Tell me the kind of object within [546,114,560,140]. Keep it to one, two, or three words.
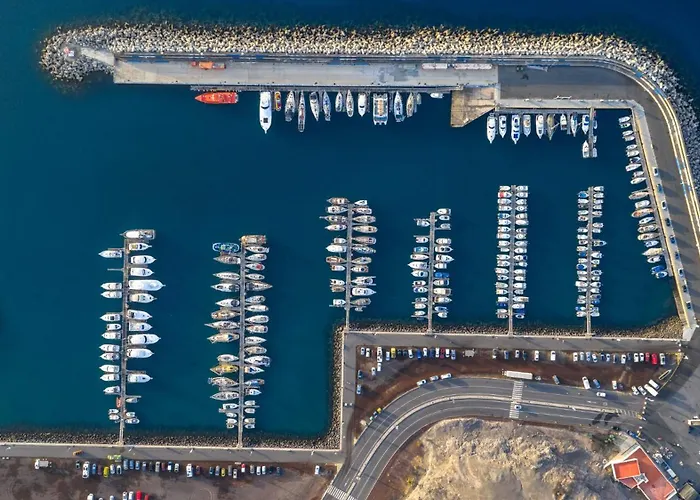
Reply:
boat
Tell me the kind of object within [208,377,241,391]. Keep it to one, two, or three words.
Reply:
boat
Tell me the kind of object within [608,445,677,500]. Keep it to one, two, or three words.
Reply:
building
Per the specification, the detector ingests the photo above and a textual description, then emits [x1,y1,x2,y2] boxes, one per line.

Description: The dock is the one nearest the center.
[328,203,369,333]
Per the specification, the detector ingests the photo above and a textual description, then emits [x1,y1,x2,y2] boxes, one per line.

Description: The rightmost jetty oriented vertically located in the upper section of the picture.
[621,111,671,276]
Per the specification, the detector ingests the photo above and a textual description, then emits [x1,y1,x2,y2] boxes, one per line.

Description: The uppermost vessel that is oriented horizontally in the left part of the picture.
[193,92,241,104]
